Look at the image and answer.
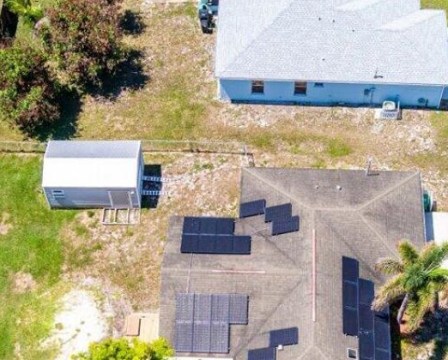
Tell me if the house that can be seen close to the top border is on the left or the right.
right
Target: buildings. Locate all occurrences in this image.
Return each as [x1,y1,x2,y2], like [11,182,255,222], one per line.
[41,139,146,210]
[158,161,437,360]
[203,0,448,108]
